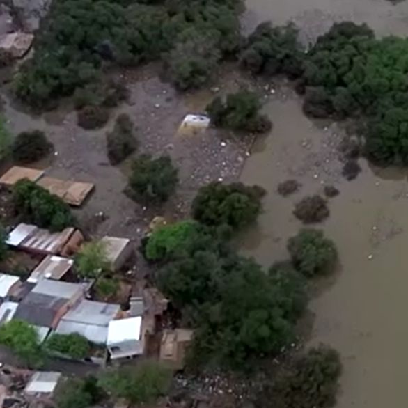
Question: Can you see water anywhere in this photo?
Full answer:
Yes, there's water in this view.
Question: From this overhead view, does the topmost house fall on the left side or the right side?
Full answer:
It is on the left.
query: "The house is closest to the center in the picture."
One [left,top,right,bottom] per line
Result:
[100,237,134,274]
